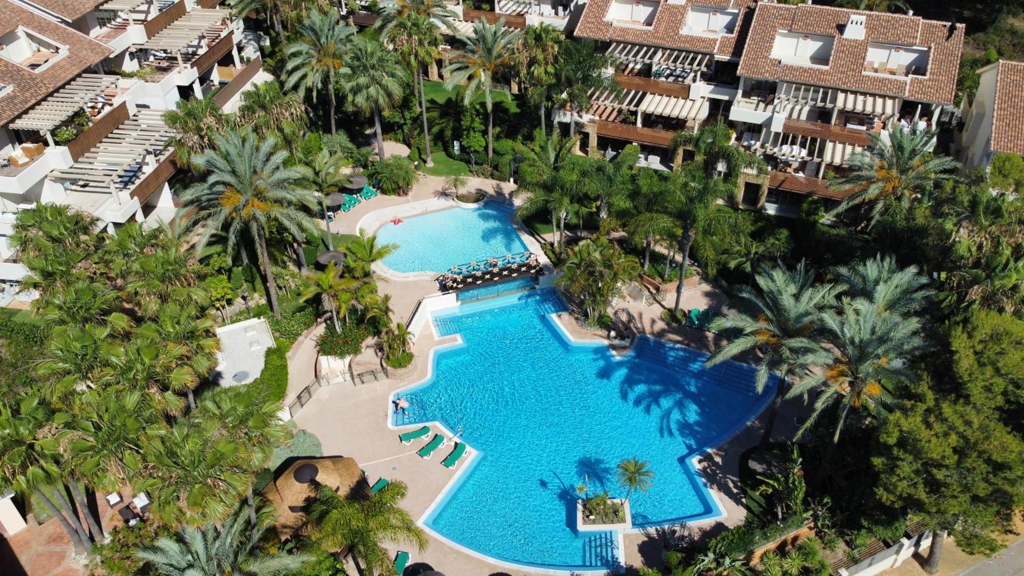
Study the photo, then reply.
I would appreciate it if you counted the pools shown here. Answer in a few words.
two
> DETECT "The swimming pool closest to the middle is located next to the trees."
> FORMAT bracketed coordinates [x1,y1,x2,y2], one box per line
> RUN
[376,199,536,303]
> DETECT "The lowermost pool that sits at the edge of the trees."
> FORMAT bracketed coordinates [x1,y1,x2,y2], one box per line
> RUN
[391,288,783,567]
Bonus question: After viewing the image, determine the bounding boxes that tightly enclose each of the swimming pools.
[391,288,783,567]
[376,199,536,303]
